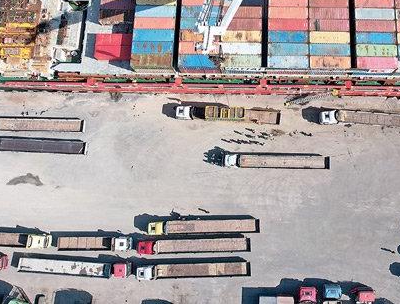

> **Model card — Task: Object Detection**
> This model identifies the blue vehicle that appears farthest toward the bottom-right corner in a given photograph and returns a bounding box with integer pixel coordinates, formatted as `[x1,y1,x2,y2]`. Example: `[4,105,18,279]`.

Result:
[322,280,343,304]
